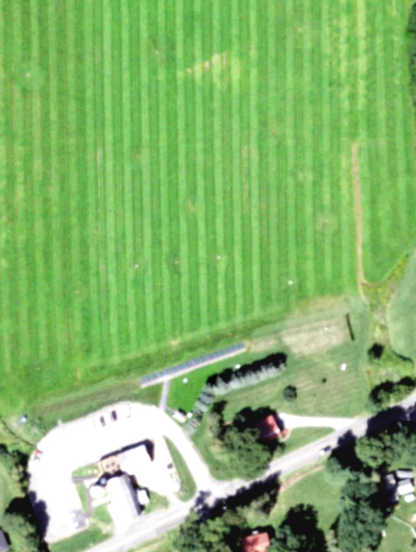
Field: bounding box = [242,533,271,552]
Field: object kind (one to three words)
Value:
house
